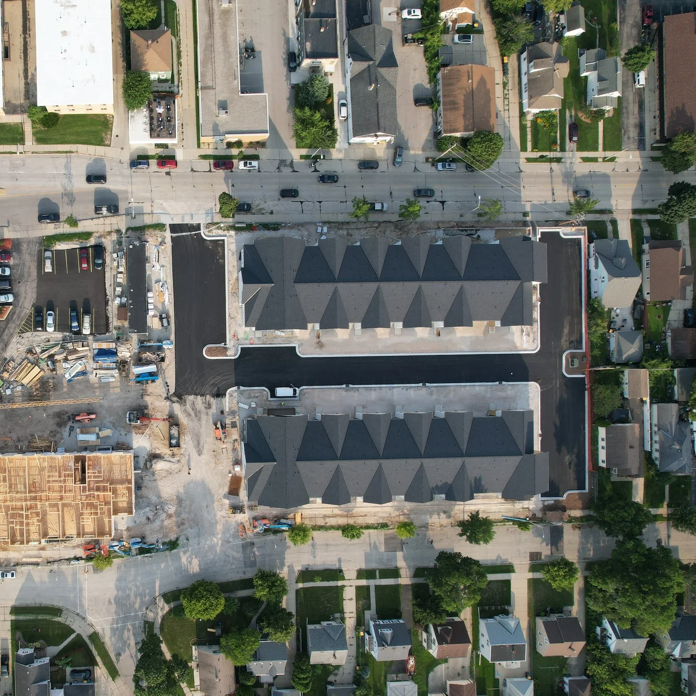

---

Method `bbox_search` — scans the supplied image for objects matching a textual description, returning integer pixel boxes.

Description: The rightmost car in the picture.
[682,308,695,328]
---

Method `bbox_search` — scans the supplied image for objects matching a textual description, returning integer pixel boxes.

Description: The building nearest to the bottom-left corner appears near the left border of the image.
[14,646,51,696]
